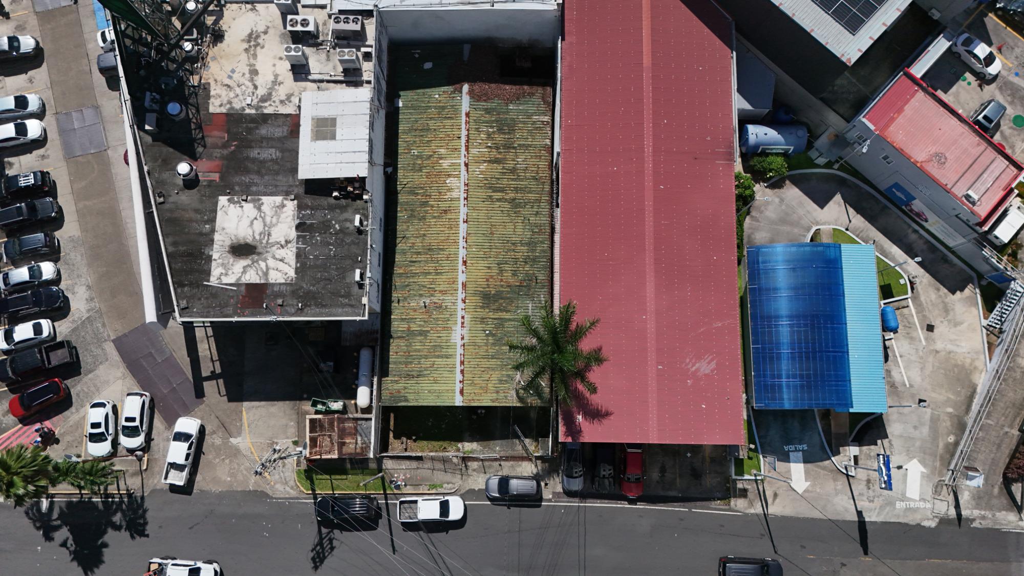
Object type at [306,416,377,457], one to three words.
shed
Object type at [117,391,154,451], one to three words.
car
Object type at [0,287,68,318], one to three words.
truck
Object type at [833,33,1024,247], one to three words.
building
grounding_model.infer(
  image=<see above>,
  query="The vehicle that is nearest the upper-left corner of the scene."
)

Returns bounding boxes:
[0,33,44,61]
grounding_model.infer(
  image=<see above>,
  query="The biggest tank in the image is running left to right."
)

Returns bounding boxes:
[742,128,806,158]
